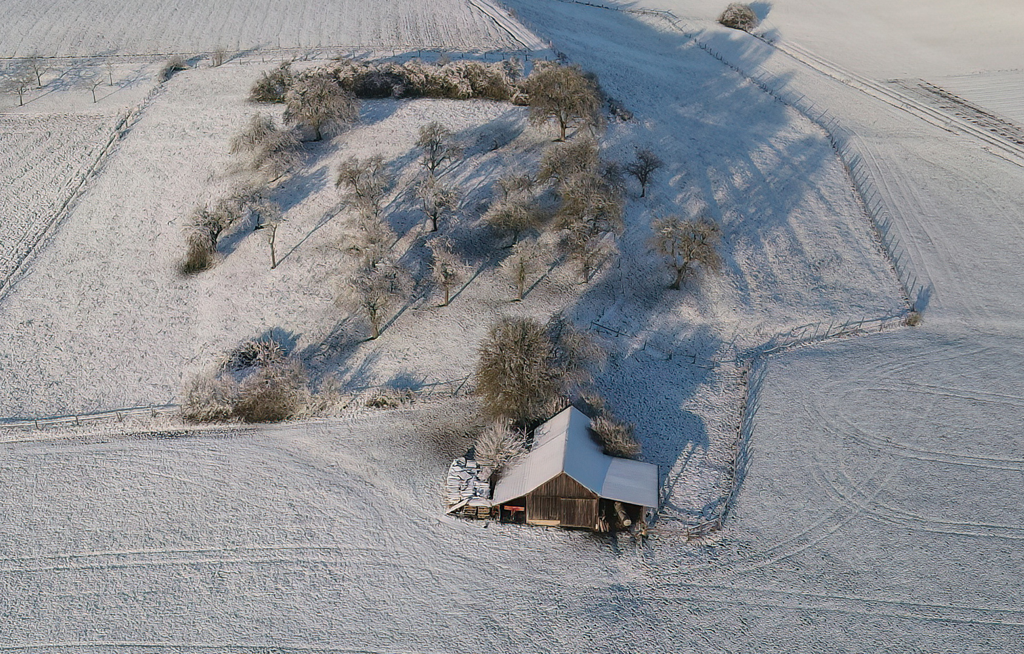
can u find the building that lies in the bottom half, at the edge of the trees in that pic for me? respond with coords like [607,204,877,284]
[492,402,663,533]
